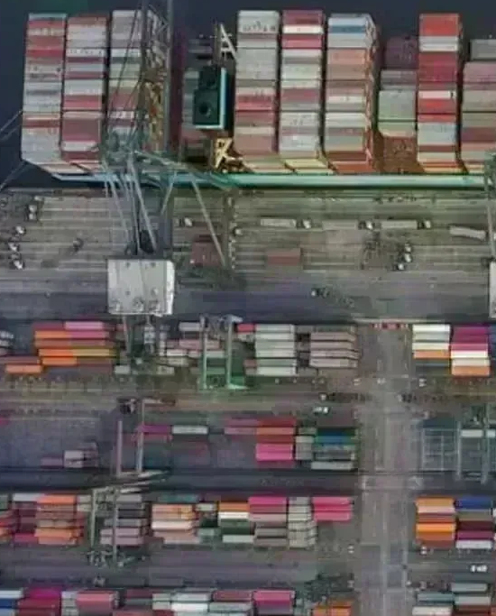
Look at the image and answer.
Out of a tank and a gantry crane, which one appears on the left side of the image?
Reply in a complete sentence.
It is a gantry crane that can be seen on the left side of the image.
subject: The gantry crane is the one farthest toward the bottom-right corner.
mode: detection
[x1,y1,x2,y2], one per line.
[455,399,496,484]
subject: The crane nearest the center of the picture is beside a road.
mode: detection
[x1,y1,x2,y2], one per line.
[188,312,250,391]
